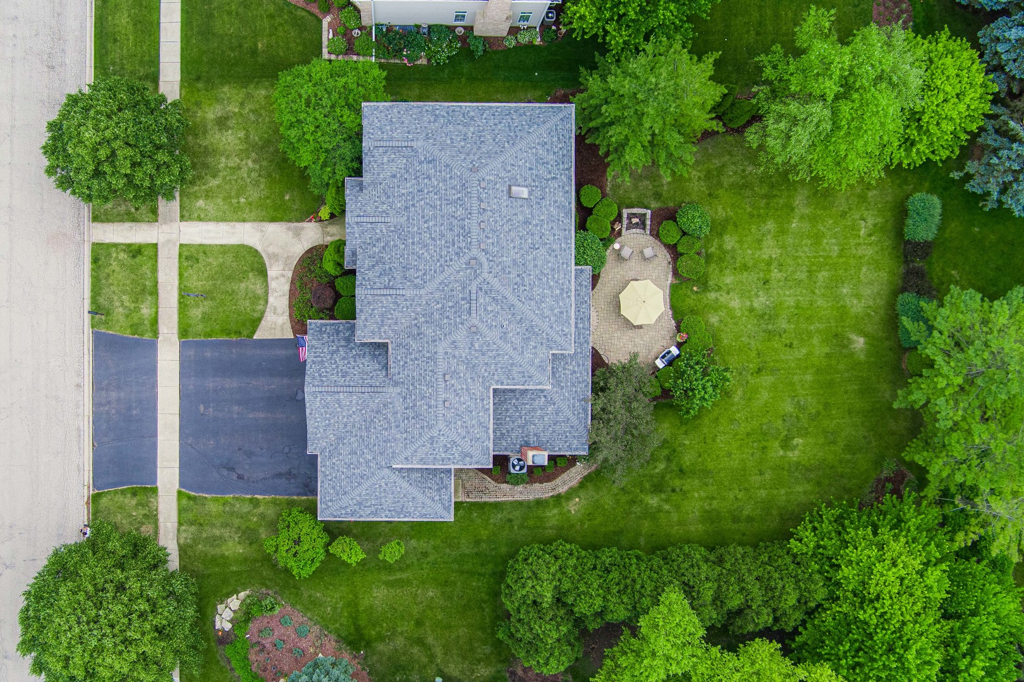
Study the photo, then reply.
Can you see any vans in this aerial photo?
No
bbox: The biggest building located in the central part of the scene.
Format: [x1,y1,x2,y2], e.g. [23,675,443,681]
[304,100,592,523]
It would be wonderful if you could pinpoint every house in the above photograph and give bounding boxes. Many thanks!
[304,100,592,523]
[351,0,557,58]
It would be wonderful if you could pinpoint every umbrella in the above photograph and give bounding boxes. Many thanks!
[619,279,664,325]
